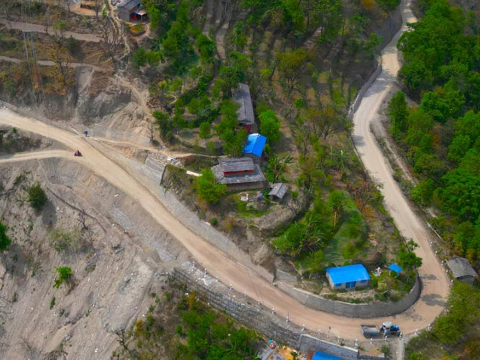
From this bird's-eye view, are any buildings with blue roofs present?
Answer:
Yes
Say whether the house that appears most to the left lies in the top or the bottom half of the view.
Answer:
top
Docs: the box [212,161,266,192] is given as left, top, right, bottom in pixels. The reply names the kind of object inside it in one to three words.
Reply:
house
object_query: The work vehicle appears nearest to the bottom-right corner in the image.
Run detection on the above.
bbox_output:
[383,321,403,336]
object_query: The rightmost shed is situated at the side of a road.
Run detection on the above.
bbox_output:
[447,254,479,283]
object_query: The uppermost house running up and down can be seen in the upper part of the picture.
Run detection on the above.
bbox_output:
[238,84,255,135]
